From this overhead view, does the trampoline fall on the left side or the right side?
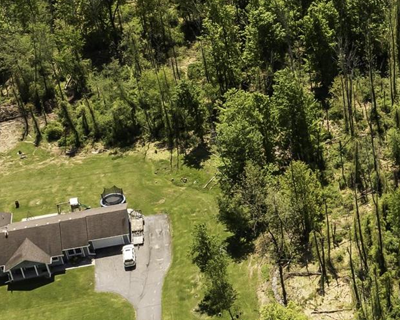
left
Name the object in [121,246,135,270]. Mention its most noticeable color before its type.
white vehicle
